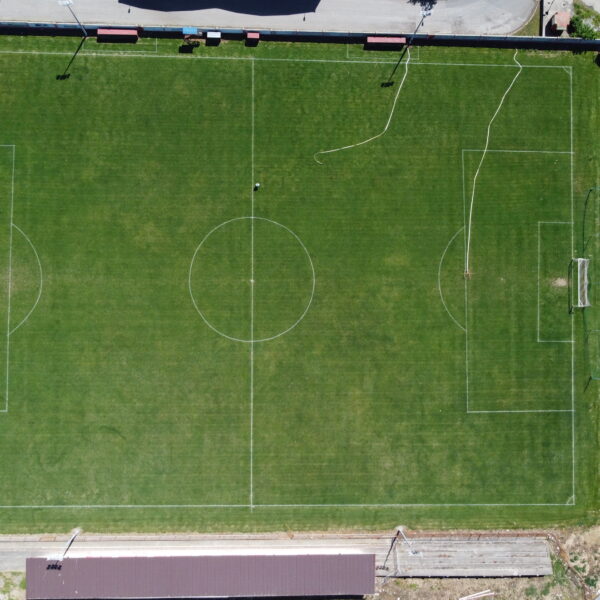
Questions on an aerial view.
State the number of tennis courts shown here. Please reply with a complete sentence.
The picture shows no tennis courts.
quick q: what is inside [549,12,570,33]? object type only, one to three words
shed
